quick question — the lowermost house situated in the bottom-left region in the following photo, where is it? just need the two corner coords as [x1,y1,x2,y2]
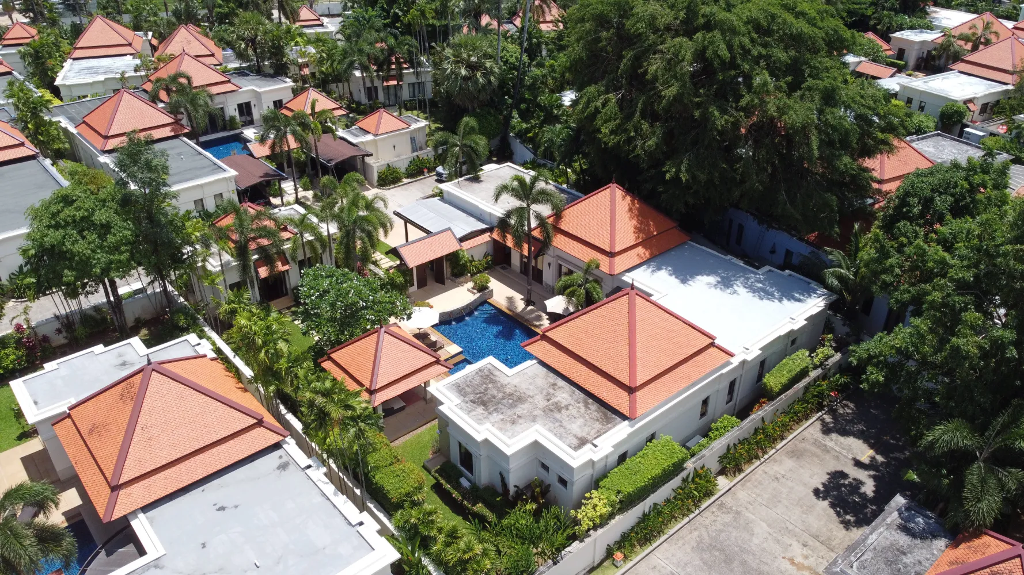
[9,334,402,575]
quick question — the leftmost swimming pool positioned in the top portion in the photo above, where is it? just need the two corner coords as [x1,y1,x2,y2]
[195,130,256,159]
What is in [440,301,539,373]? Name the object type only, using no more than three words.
swimming pool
